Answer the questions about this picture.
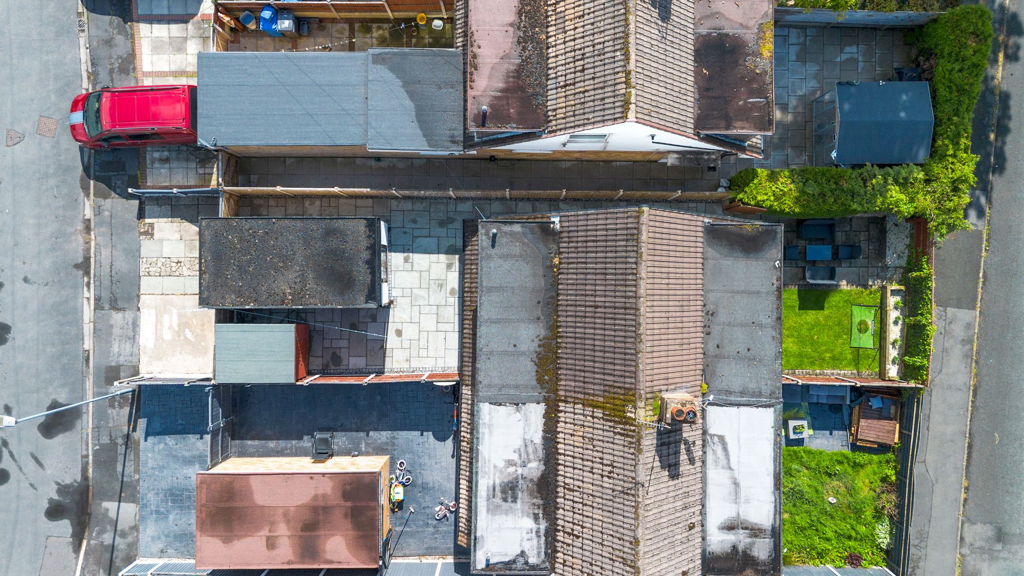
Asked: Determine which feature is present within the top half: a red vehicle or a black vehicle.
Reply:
red vehicle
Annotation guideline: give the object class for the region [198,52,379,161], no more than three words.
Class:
building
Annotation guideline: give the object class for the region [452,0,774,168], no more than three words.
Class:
house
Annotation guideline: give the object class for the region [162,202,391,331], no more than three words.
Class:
building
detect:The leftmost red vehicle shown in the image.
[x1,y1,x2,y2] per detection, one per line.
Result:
[64,80,201,151]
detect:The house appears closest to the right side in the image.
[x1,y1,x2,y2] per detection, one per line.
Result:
[813,80,938,170]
